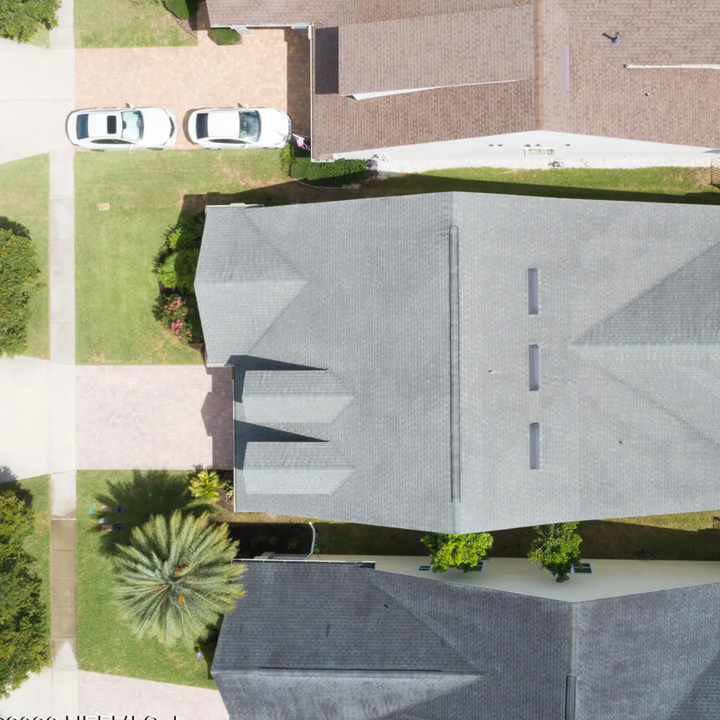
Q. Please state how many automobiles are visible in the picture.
two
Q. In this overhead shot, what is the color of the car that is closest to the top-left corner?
white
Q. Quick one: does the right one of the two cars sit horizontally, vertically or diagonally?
horizontally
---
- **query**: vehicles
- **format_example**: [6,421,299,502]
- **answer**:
[68,106,179,151]
[187,106,293,151]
